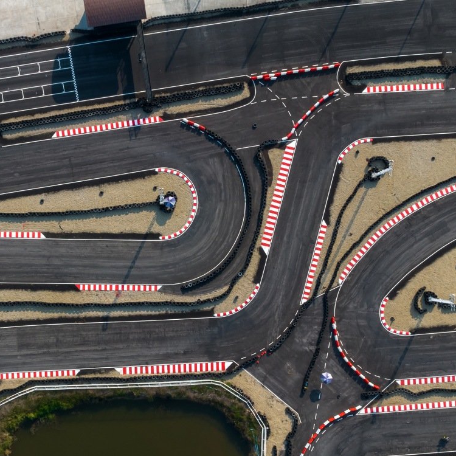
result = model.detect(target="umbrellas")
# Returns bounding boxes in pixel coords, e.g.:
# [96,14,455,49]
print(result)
[163,197,176,210]
[320,372,333,384]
